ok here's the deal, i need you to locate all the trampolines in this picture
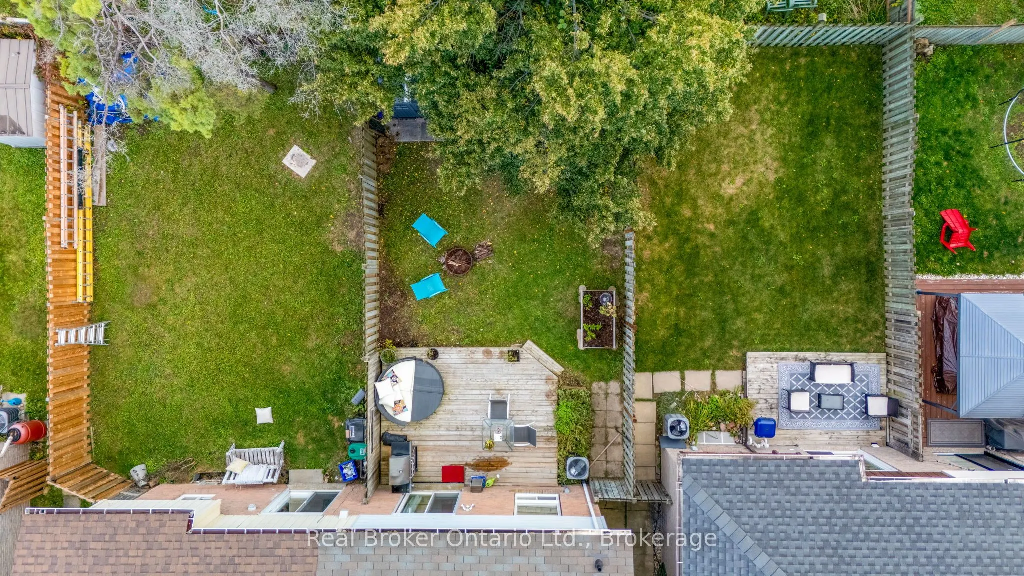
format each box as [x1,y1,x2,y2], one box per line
[986,91,1024,184]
